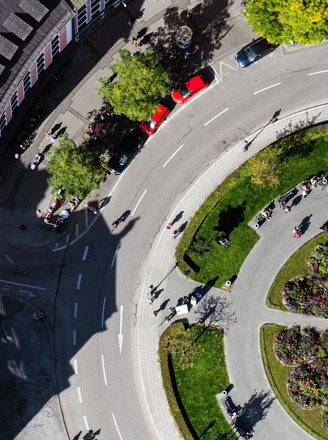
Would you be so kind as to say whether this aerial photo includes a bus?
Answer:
No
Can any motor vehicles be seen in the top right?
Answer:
Yes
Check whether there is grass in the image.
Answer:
Yes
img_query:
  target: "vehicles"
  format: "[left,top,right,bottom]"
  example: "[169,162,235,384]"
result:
[174,73,209,104]
[236,33,278,67]
[107,134,143,174]
[138,104,172,136]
